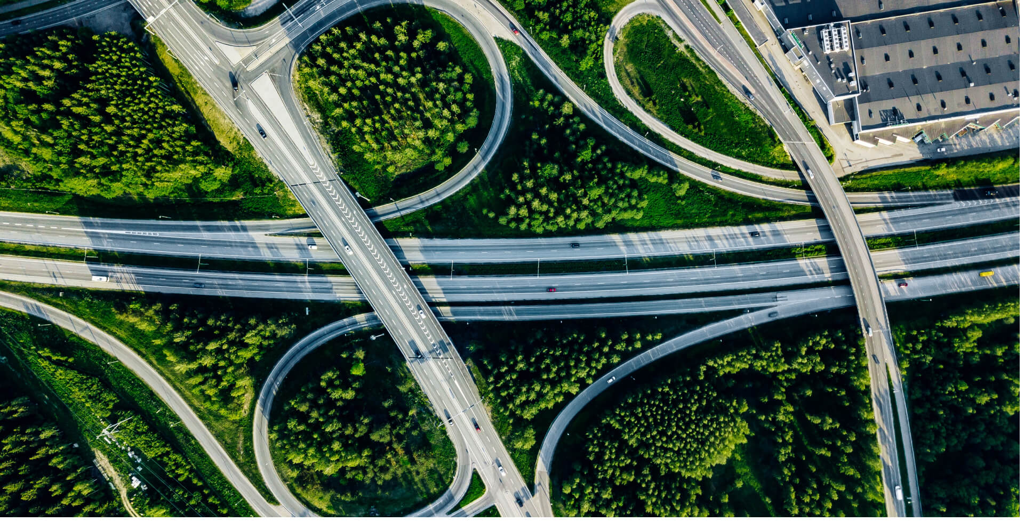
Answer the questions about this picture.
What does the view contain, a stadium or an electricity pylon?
electricity pylon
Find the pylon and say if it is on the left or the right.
left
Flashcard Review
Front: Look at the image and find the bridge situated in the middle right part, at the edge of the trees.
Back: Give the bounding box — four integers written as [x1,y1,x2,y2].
[785,140,891,332]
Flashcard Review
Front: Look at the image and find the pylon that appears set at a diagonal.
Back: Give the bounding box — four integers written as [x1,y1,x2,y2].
[94,427,141,457]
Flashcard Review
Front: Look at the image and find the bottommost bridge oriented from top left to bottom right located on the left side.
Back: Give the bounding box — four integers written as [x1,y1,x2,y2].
[286,176,462,362]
